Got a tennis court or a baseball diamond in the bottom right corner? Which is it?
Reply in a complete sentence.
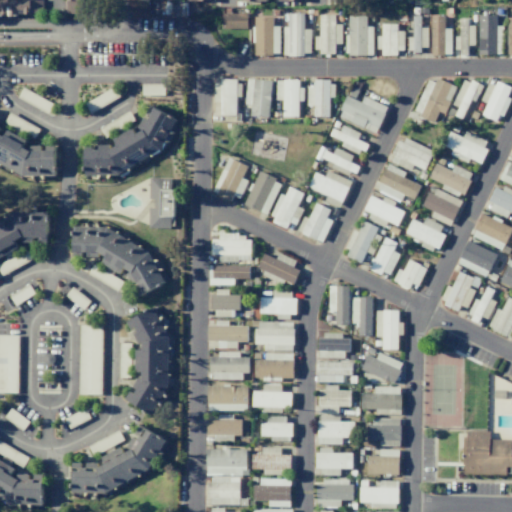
You can see a tennis court in the bottom right corner.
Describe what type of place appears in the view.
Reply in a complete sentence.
The area seen from above is a residential area.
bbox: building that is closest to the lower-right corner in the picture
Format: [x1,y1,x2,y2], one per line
[465,432,512,476]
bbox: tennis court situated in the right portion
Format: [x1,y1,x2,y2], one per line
[424,352,466,429]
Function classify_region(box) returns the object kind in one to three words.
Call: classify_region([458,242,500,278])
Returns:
house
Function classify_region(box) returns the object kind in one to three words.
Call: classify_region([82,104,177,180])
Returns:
building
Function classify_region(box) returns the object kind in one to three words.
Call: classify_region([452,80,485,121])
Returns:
house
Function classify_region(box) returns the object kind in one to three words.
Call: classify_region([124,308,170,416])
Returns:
building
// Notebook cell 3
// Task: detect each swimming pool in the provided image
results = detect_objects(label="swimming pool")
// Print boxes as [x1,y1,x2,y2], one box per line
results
[498,415,512,428]
[120,194,142,208]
